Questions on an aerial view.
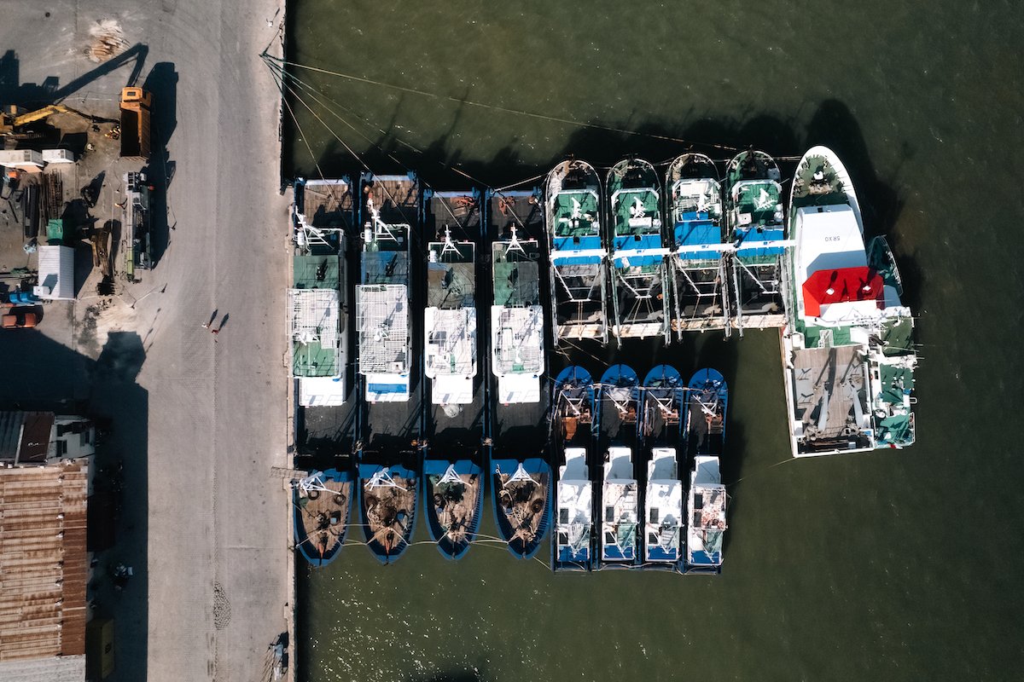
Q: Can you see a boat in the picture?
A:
Yes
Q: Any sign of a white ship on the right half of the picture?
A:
Yes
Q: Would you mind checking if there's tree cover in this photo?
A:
No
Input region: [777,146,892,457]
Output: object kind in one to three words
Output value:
ship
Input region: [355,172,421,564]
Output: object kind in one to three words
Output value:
boat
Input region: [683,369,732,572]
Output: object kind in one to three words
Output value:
boat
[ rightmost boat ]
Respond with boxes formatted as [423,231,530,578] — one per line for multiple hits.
[863,236,924,450]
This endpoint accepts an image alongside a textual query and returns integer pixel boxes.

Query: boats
[664,148,732,340]
[549,367,599,570]
[723,146,795,337]
[355,172,421,564]
[683,369,732,572]
[547,156,610,347]
[863,236,924,450]
[421,183,484,561]
[637,365,688,568]
[595,365,647,568]
[606,154,672,346]
[487,182,552,561]
[286,176,358,567]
